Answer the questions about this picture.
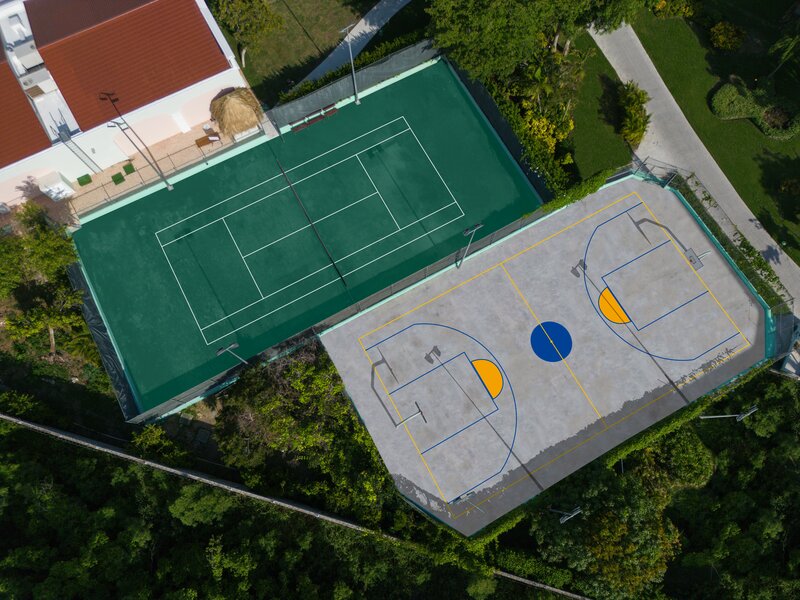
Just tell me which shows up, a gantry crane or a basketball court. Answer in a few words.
basketball court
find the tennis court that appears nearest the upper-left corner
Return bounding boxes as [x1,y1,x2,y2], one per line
[70,59,550,420]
